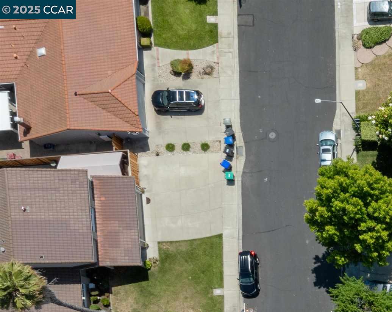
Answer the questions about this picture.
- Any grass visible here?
Yes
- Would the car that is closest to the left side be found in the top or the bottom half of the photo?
top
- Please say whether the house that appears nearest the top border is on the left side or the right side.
left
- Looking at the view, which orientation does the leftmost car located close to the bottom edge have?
from top to bottom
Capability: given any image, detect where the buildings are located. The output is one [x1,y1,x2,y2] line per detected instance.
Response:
[0,169,153,312]
[0,0,152,146]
